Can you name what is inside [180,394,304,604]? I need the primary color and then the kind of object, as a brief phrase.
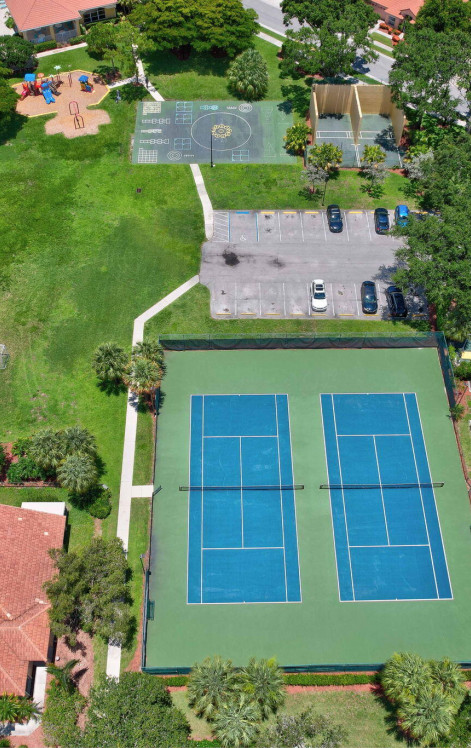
blue tennis court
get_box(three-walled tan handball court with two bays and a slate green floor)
[310,84,405,167]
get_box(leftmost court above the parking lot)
[132,102,297,163]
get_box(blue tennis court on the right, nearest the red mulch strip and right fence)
[320,392,453,602]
